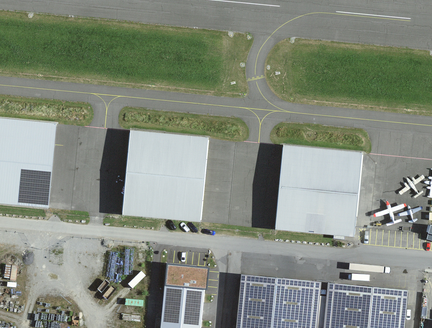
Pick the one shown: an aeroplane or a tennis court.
aeroplane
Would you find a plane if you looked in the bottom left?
No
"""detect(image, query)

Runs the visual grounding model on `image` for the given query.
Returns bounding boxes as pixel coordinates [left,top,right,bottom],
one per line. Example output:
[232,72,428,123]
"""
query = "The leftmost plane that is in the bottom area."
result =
[374,201,408,225]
